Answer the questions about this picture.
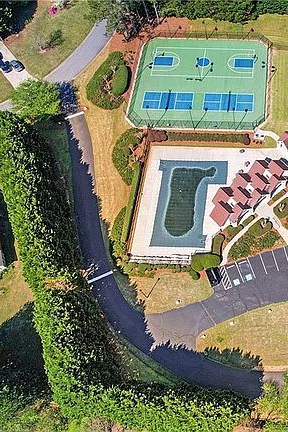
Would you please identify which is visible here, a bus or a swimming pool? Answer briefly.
swimming pool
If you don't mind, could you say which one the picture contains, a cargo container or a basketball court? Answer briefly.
basketball court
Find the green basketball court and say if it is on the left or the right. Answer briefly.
right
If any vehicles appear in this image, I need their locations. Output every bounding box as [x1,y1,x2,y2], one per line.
[0,59,10,71]
[9,58,23,71]
[206,266,223,287]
